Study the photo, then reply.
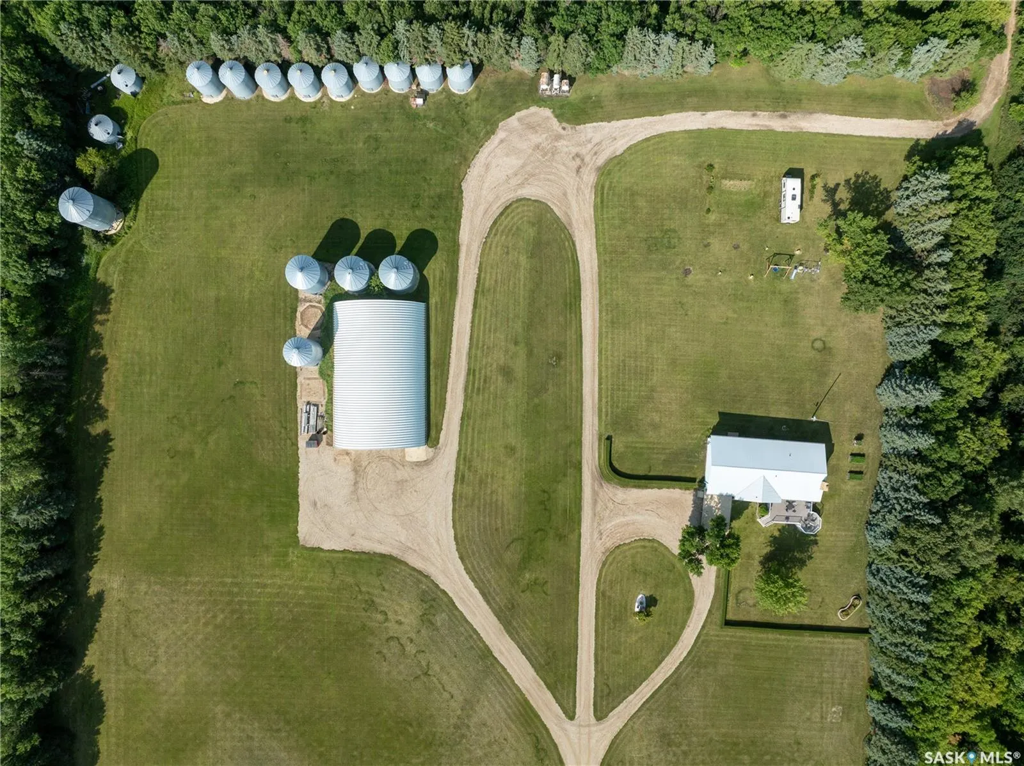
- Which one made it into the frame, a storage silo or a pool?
storage silo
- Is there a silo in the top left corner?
Yes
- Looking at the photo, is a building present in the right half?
Yes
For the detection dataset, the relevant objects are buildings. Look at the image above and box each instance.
[333,299,426,449]
[704,435,827,503]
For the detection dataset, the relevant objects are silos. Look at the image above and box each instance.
[58,187,127,235]
[353,55,384,93]
[378,256,417,294]
[283,336,322,367]
[446,55,473,93]
[334,256,375,295]
[384,55,414,93]
[321,62,353,100]
[186,60,225,99]
[255,62,289,100]
[288,62,321,100]
[285,255,333,295]
[111,63,146,96]
[88,115,123,146]
[219,60,256,99]
[416,55,444,93]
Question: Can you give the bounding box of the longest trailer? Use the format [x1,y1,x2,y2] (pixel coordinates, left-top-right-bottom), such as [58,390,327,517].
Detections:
[778,177,801,232]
